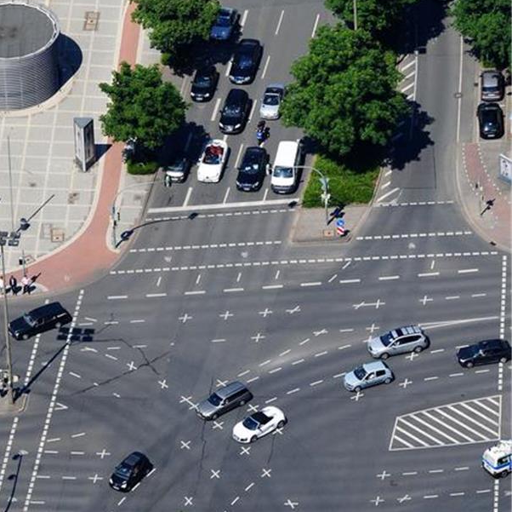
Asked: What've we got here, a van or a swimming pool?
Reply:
van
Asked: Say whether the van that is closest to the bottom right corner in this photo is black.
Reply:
No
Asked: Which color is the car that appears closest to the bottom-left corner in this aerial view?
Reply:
black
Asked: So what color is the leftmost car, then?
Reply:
black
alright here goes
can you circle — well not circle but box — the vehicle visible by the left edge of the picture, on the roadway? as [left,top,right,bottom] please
[6,297,74,342]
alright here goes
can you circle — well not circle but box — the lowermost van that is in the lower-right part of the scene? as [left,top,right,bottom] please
[479,441,512,480]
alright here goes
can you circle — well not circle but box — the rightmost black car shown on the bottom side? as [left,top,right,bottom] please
[455,336,512,371]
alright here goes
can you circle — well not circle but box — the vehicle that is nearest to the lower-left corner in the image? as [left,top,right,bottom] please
[108,448,155,491]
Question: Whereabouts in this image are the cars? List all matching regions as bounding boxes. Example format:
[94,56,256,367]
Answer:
[229,39,261,82]
[189,61,219,102]
[229,403,290,443]
[219,89,251,132]
[477,101,505,137]
[257,79,286,123]
[195,376,255,422]
[163,142,194,182]
[235,147,267,190]
[455,336,512,371]
[6,297,74,342]
[210,2,239,41]
[478,64,507,104]
[108,448,155,491]
[196,140,227,179]
[365,323,433,359]
[341,358,397,395]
